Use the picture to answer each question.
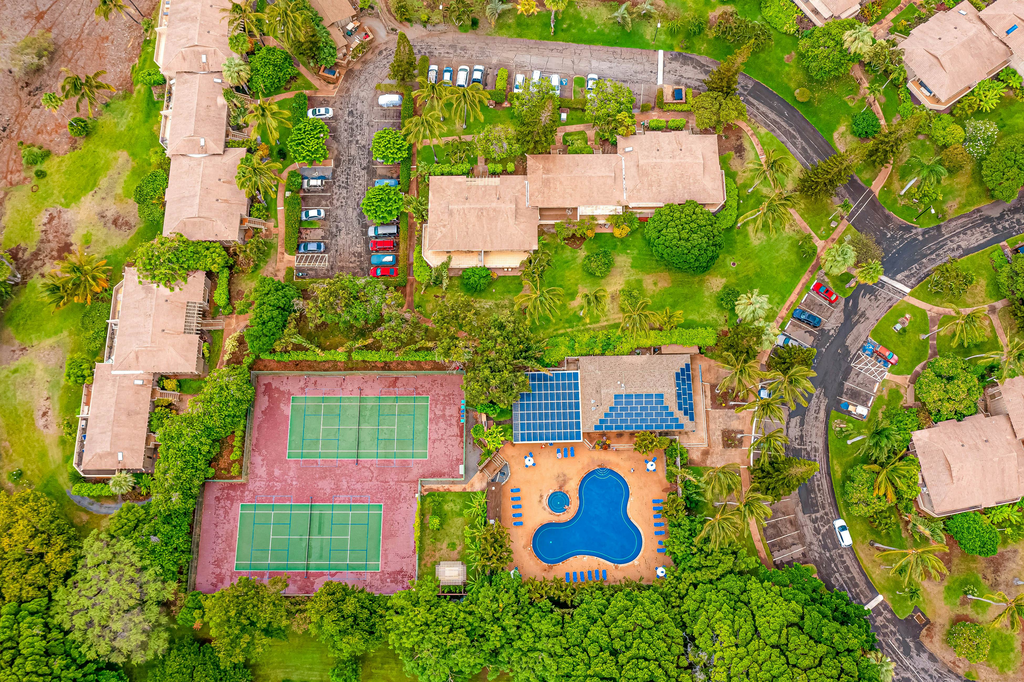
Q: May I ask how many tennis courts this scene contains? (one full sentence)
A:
The photo contains 2 tennis courts.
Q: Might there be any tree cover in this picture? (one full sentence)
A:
Yes, the picture does contain tree cover.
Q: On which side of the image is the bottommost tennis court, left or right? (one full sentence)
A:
It is on the left.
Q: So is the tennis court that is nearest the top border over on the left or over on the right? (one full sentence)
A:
The tennis court that is nearest the top border appears in the left half of the scene.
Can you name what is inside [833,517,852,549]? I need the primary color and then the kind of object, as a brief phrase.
white car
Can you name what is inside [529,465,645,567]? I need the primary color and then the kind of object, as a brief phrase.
blue swimming pool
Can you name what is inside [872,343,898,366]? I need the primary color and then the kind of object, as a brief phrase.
red car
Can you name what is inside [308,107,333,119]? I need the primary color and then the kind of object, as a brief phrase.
white vehicle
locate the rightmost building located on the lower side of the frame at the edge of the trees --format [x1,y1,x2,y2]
[903,372,1024,517]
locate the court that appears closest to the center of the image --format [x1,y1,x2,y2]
[287,388,429,467]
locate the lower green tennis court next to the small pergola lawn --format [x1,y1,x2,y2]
[235,496,383,580]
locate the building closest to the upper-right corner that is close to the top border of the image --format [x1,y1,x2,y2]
[888,0,1024,120]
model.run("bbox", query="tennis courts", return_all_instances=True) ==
[287,388,429,467]
[235,496,383,580]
